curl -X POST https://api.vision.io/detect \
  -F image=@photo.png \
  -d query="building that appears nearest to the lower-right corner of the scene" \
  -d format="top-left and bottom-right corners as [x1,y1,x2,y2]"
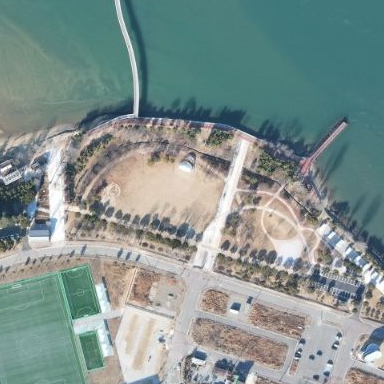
[353,342,383,362]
